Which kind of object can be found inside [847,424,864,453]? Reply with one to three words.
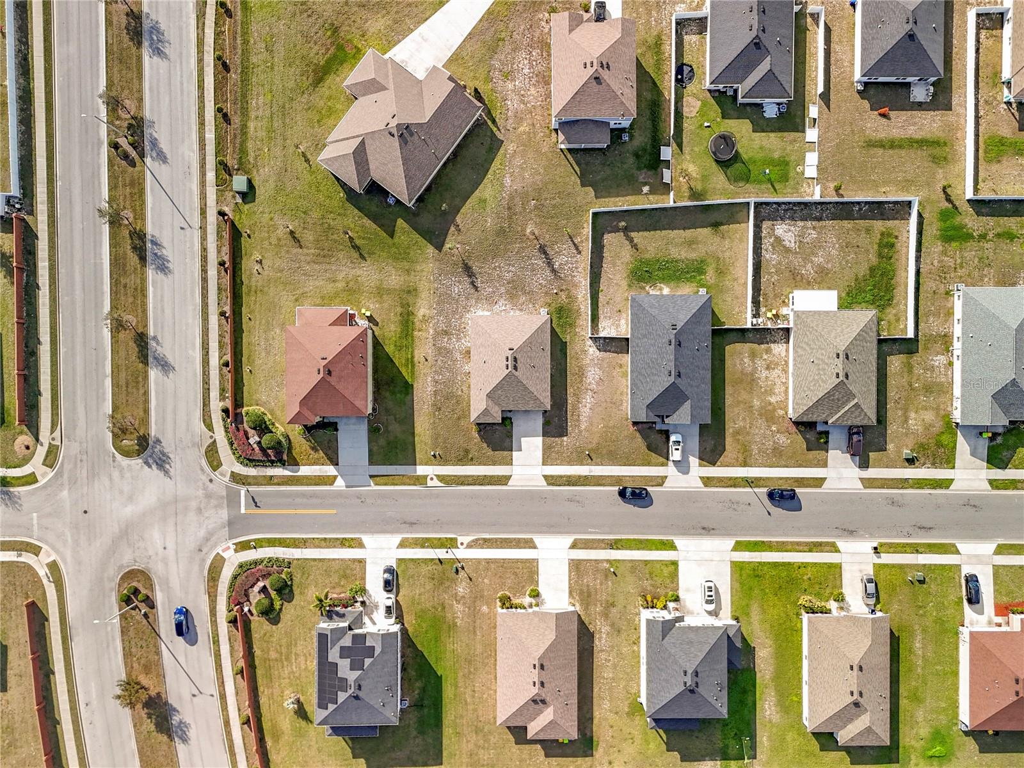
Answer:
car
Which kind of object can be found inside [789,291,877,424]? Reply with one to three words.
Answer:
house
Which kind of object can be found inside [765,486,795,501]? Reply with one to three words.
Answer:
car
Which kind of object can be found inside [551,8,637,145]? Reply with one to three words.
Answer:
house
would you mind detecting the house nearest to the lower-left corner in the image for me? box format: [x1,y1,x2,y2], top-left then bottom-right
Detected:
[315,605,401,741]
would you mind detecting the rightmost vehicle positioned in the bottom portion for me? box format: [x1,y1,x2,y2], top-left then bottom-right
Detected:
[958,570,977,602]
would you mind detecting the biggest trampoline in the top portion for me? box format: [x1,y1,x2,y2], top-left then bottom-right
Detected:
[707,126,739,159]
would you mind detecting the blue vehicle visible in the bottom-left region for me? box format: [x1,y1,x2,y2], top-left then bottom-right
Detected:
[172,607,190,636]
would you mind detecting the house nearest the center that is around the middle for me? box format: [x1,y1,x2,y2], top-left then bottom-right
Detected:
[470,315,551,423]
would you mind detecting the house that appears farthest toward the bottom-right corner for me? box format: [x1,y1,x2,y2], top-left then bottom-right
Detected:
[961,615,1024,730]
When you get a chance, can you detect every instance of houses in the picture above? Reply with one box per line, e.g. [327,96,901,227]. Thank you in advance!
[952,287,1024,425]
[803,612,890,746]
[315,605,401,741]
[496,607,578,740]
[1002,0,1024,102]
[551,8,637,145]
[317,48,484,207]
[707,0,794,103]
[789,291,877,424]
[642,609,742,732]
[286,307,372,424]
[629,294,712,424]
[961,615,1024,730]
[855,0,944,82]
[470,315,551,423]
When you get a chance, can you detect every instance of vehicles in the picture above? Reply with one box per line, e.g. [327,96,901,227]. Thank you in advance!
[383,590,397,621]
[765,486,795,501]
[858,572,875,603]
[172,607,190,636]
[847,424,864,453]
[617,485,647,500]
[669,430,684,460]
[958,570,977,602]
[593,0,608,22]
[382,562,396,590]
[699,576,715,607]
